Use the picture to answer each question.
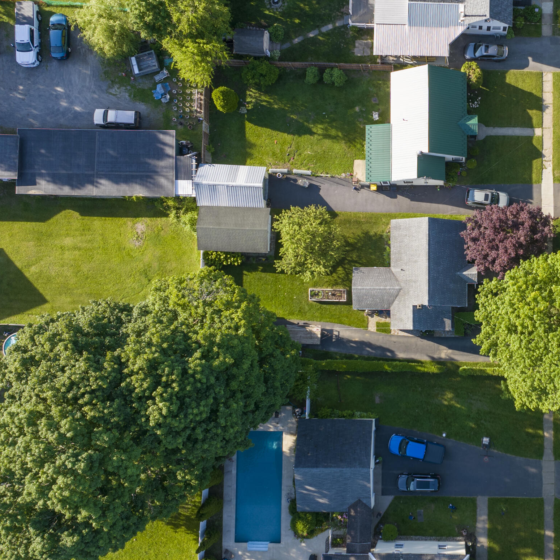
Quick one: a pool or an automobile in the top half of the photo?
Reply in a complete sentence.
Looking in the top half of the photo, you will find an automobile.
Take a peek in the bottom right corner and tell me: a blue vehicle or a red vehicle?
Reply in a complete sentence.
It is a blue vehicle that can be seen in the bottom right corner.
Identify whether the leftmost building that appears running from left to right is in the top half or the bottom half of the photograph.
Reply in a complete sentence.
The top half of the photo is where the leftmost building that appears running from left to right is.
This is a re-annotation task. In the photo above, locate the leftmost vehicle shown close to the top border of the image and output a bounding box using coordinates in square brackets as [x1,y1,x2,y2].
[15,3,43,67]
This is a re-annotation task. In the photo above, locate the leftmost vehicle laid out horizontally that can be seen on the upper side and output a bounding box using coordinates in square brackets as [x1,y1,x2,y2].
[93,106,142,130]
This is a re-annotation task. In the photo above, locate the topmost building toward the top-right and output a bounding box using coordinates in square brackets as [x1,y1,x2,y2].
[372,0,512,64]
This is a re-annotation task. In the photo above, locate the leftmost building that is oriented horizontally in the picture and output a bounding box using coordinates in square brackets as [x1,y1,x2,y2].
[16,128,185,199]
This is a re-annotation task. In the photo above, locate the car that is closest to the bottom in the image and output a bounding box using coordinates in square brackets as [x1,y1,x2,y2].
[397,472,441,494]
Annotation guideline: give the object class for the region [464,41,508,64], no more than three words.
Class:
car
